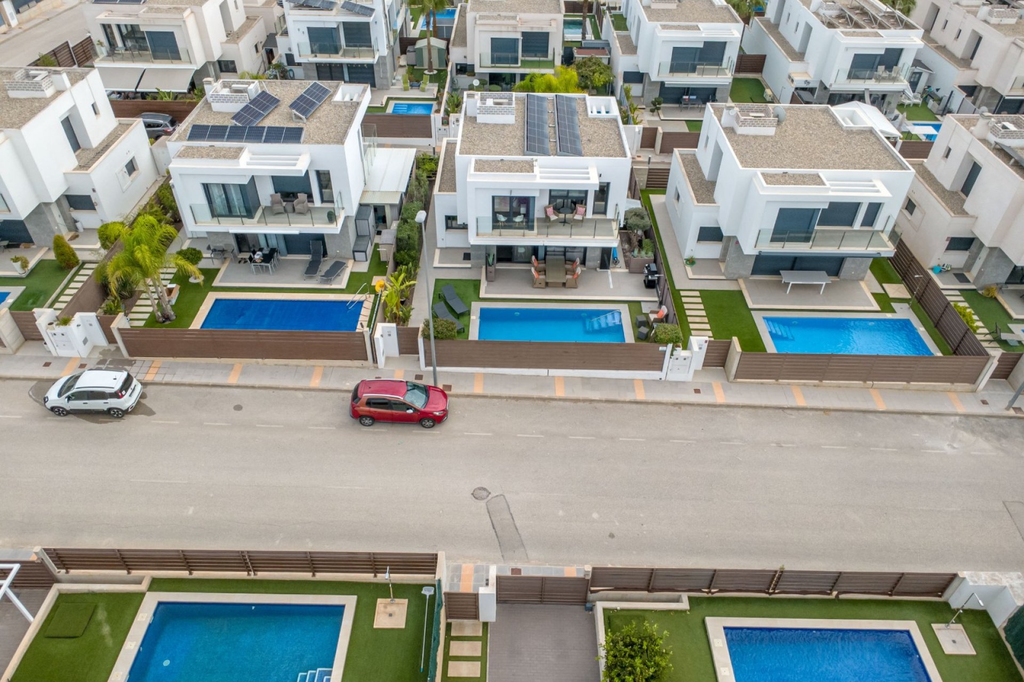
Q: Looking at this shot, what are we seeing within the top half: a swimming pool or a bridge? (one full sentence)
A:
There is a swimming pool within the top half.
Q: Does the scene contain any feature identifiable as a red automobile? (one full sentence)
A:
Yes, I can see a red automobile in this picture.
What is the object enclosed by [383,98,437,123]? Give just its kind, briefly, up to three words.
swimming pool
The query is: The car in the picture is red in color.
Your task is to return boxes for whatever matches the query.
[346,378,450,430]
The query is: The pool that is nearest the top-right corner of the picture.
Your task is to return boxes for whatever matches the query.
[900,121,945,137]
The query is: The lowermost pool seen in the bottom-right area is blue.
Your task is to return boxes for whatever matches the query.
[707,617,942,682]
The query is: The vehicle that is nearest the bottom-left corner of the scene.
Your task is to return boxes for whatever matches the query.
[41,367,143,418]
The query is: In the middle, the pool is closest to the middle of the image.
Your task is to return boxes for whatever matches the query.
[469,302,636,343]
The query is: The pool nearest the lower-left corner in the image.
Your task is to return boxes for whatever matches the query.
[108,591,357,682]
